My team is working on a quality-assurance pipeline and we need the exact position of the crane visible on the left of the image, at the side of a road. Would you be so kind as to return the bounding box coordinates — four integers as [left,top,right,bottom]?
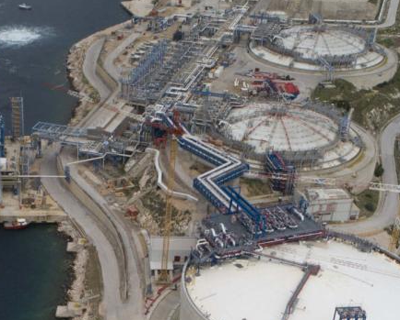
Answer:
[32,72,202,289]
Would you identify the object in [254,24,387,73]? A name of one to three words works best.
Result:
storage tank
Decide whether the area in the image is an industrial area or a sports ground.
industrial area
